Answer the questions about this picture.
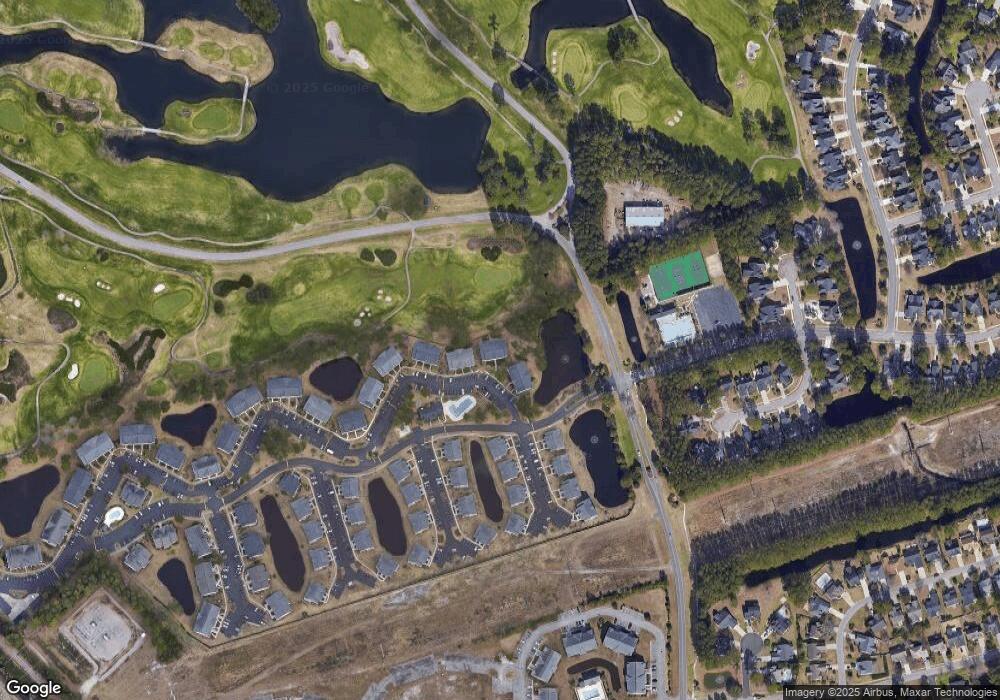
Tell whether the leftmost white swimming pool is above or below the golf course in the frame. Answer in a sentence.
It's below the golf course that the leftmost white swimming pool shows up.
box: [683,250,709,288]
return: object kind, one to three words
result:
tennis court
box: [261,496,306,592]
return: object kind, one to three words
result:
pond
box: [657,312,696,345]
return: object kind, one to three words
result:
swimming pool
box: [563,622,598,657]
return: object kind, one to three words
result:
building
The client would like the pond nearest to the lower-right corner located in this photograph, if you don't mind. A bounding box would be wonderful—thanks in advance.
[824,368,911,426]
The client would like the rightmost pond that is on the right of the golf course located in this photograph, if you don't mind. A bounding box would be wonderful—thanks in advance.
[918,247,1000,286]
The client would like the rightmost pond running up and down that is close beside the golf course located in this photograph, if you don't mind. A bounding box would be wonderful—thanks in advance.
[824,198,876,319]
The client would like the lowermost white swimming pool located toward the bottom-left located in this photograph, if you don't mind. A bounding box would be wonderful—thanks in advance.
[104,507,124,526]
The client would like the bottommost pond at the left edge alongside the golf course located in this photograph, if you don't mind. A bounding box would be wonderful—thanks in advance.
[0,465,60,537]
